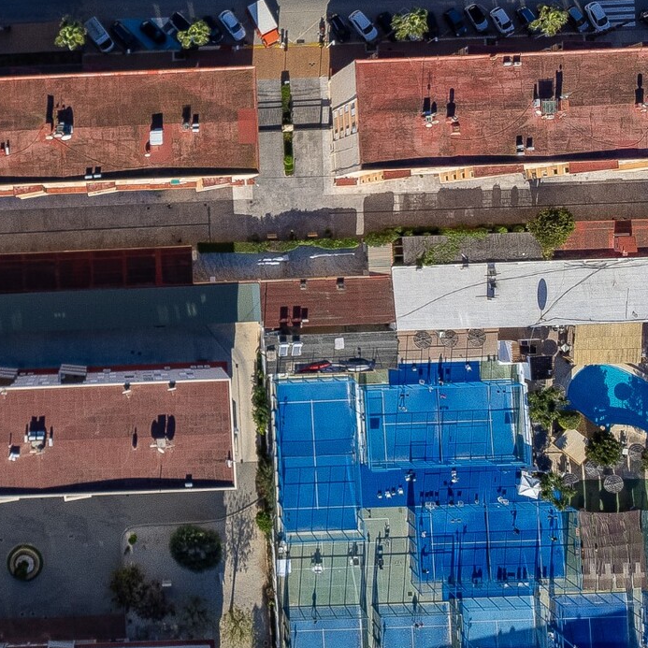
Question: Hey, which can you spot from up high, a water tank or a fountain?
fountain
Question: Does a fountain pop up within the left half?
Yes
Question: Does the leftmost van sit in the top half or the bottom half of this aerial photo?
top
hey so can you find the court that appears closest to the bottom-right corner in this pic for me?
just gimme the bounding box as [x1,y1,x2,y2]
[552,593,648,648]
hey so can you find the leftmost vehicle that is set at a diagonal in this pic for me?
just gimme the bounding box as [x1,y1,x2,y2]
[83,15,114,54]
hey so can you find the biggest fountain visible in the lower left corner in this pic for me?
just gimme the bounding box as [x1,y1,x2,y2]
[7,543,44,583]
